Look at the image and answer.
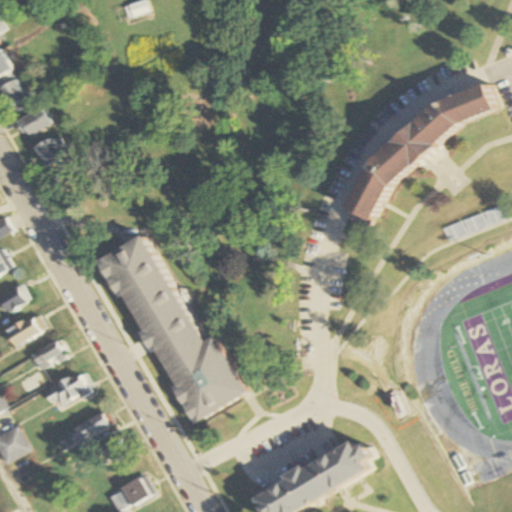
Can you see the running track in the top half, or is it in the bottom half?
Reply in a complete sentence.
It is in the bottom half that the running track appears.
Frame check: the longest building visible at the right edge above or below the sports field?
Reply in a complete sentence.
From this view, the longest building visible at the right edge can be seen above the sports field.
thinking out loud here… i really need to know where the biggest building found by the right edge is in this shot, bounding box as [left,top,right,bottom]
[344,83,498,224]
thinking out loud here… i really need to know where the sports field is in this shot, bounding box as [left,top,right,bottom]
[440,278,512,440]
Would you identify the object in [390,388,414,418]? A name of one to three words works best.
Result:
building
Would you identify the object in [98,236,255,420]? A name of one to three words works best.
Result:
building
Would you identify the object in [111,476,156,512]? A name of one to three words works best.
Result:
house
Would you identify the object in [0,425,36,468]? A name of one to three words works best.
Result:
house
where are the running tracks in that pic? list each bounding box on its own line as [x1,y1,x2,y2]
[414,253,512,481]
